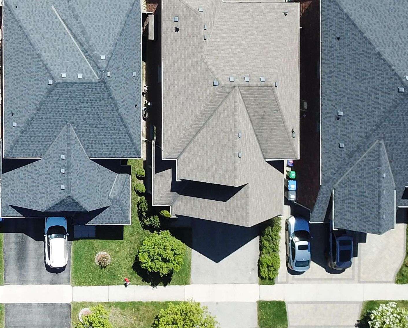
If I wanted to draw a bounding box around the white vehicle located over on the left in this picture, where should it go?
[43,218,70,269]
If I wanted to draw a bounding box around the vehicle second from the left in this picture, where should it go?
[283,215,312,275]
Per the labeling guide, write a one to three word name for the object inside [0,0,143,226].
house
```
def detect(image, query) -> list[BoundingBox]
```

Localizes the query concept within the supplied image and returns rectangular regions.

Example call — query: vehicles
[43,218,70,269]
[283,215,312,275]
[323,218,351,271]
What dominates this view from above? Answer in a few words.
buildings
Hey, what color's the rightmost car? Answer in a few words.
black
